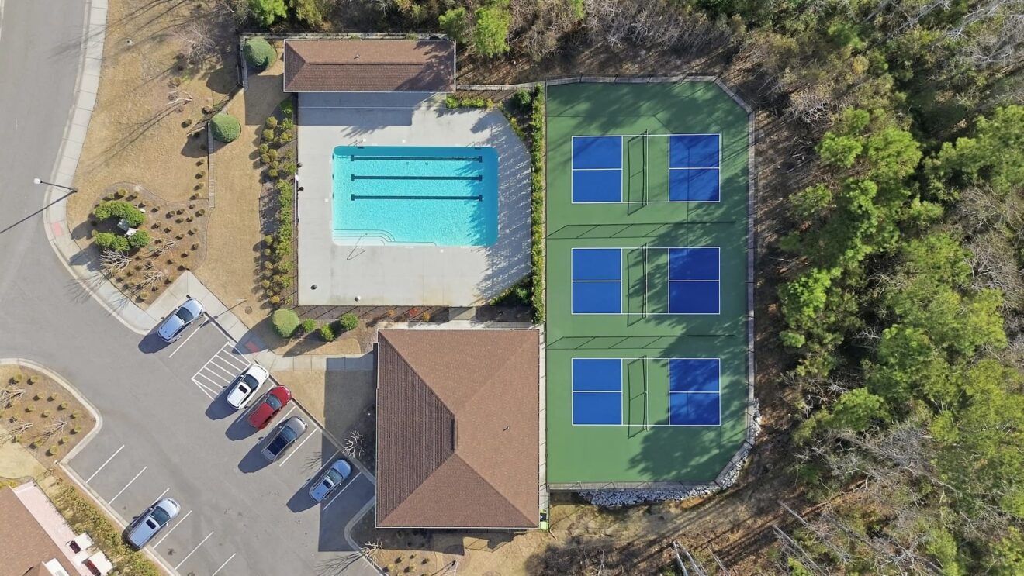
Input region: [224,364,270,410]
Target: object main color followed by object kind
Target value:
white car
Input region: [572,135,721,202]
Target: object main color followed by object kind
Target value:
blue sports court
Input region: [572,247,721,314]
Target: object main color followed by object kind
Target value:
blue sports court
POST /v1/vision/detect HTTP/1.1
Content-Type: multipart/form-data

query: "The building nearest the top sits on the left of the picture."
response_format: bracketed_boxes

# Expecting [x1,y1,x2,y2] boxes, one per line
[285,40,456,94]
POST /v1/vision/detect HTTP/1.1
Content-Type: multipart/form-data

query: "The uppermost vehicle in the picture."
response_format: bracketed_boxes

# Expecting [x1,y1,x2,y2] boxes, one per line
[156,297,205,344]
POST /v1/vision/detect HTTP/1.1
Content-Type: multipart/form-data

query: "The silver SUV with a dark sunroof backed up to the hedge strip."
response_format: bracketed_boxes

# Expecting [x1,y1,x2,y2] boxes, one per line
[124,496,181,552]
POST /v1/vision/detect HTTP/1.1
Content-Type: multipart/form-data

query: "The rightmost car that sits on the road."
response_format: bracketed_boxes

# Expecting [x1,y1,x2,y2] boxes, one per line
[308,458,353,504]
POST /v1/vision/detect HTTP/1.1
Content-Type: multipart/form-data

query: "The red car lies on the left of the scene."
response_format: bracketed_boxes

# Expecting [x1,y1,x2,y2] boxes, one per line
[248,387,292,430]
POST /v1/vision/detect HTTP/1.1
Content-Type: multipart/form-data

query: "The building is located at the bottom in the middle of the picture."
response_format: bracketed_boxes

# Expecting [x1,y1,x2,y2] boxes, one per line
[374,329,539,528]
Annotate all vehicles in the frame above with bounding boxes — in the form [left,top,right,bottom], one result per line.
[262,417,308,462]
[248,387,292,430]
[156,297,205,344]
[308,458,353,504]
[124,496,181,552]
[224,364,270,410]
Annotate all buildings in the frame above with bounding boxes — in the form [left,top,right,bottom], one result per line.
[285,40,456,94]
[374,329,539,528]
[0,481,111,576]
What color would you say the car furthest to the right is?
blue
